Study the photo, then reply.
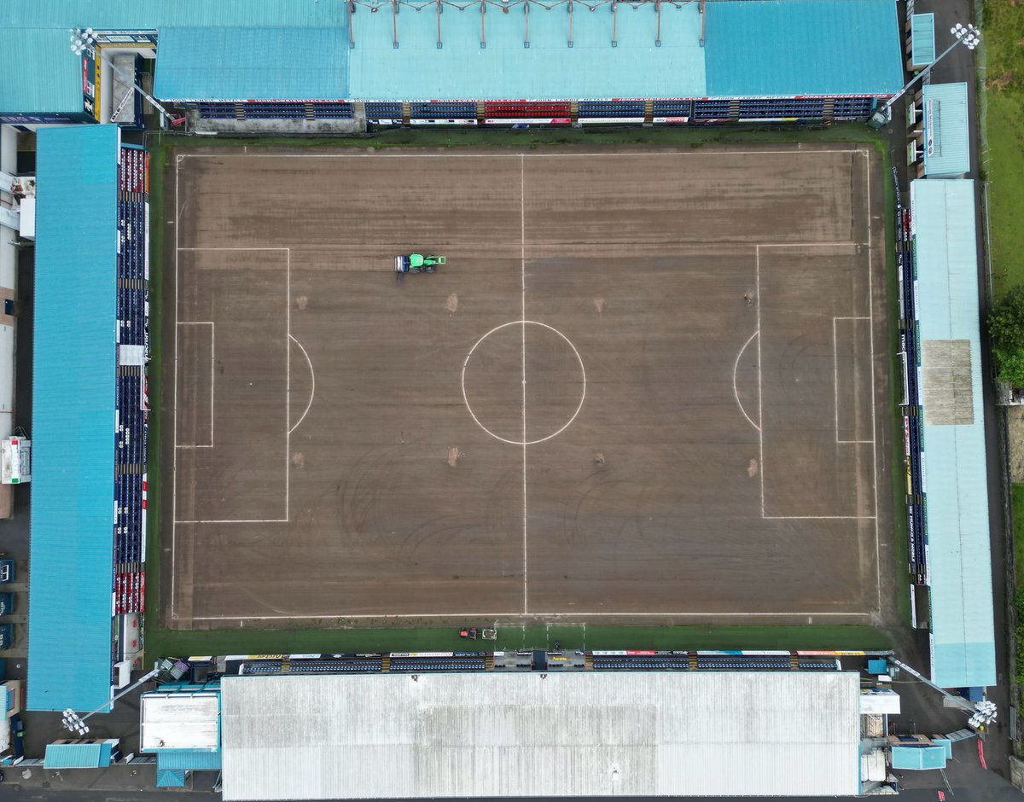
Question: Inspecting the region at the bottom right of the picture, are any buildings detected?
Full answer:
Yes, looking at the bottom right of the picture, one can make out a building.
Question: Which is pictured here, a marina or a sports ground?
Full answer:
It's a sports ground.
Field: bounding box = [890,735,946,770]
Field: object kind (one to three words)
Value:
house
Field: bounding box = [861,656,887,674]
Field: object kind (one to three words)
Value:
shed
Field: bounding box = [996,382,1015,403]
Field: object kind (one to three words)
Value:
shed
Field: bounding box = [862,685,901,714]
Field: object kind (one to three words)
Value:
building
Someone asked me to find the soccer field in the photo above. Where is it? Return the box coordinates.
[137,128,914,661]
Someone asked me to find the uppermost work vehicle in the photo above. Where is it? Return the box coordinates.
[407,256,446,275]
